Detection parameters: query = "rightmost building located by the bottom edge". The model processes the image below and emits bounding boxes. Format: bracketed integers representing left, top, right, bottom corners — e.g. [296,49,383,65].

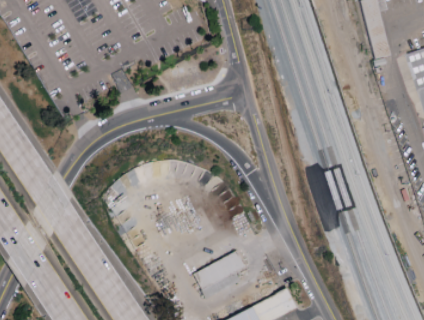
[253,288,298,320]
